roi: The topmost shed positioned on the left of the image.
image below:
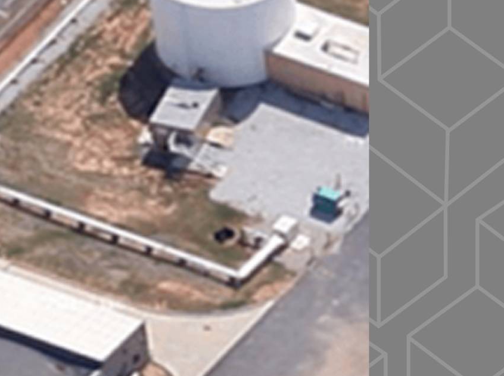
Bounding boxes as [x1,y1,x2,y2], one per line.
[150,85,219,157]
